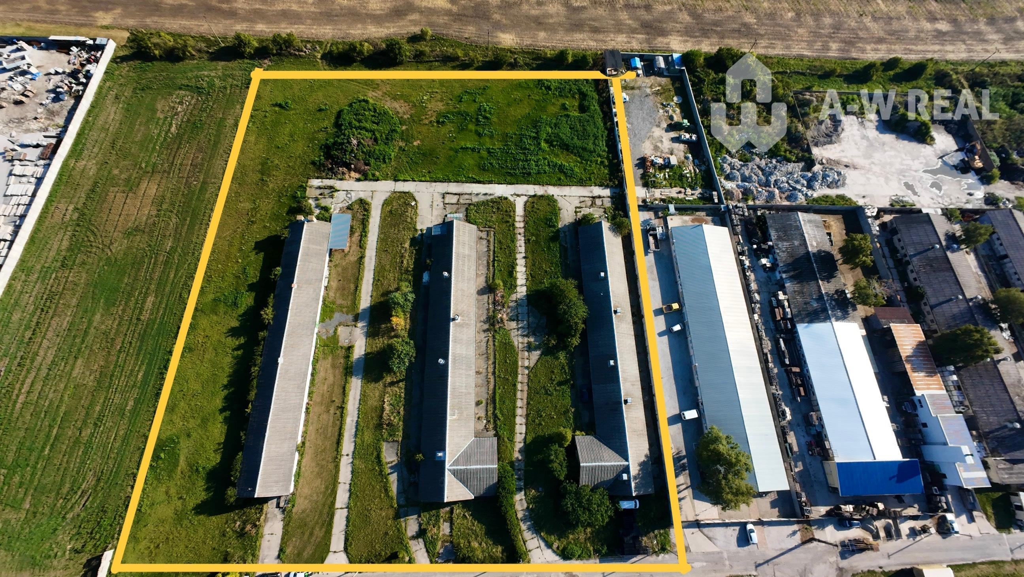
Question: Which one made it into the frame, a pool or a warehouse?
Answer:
warehouse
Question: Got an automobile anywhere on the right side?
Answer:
Yes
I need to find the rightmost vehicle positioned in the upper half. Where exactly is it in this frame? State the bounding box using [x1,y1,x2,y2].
[966,145,985,170]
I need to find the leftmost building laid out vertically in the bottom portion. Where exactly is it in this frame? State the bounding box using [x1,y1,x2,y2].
[236,212,332,497]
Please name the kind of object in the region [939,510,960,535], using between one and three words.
car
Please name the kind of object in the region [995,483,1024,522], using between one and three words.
bus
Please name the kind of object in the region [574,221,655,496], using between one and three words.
building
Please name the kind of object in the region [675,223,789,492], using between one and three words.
warehouse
